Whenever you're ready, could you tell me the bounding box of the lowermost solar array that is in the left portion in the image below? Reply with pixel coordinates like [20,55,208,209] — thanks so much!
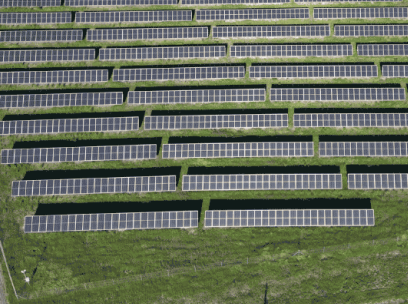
[25,211,198,232]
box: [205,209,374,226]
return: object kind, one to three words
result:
solar array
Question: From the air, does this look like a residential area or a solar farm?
solar farm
